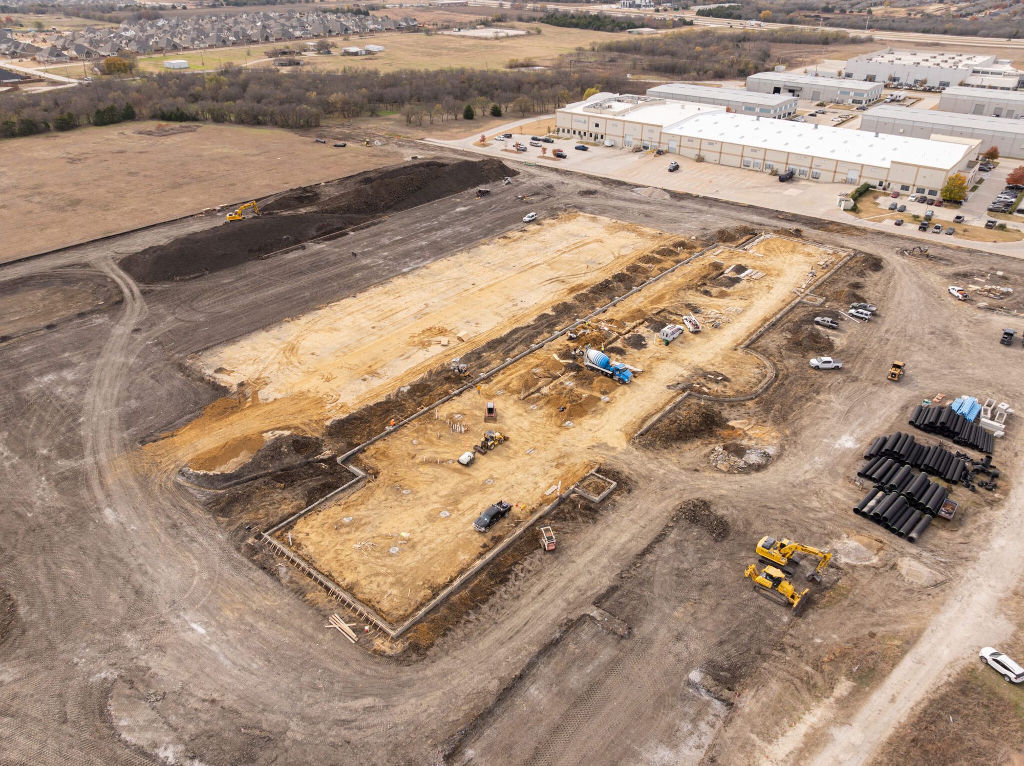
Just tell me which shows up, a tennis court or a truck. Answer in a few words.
truck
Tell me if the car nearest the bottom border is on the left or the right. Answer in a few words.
right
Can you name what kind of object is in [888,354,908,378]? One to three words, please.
work vehicle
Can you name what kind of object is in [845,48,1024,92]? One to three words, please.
building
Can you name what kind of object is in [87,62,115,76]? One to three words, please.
house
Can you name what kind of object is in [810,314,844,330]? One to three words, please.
vehicle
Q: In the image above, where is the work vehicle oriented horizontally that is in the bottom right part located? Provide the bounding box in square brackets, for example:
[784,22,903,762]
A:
[755,535,840,588]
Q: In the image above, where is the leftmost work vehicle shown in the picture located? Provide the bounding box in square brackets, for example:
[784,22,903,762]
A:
[223,191,264,223]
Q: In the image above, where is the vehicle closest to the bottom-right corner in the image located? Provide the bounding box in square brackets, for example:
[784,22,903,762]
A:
[978,645,1024,685]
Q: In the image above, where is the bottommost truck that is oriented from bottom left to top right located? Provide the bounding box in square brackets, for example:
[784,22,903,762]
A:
[472,495,515,528]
